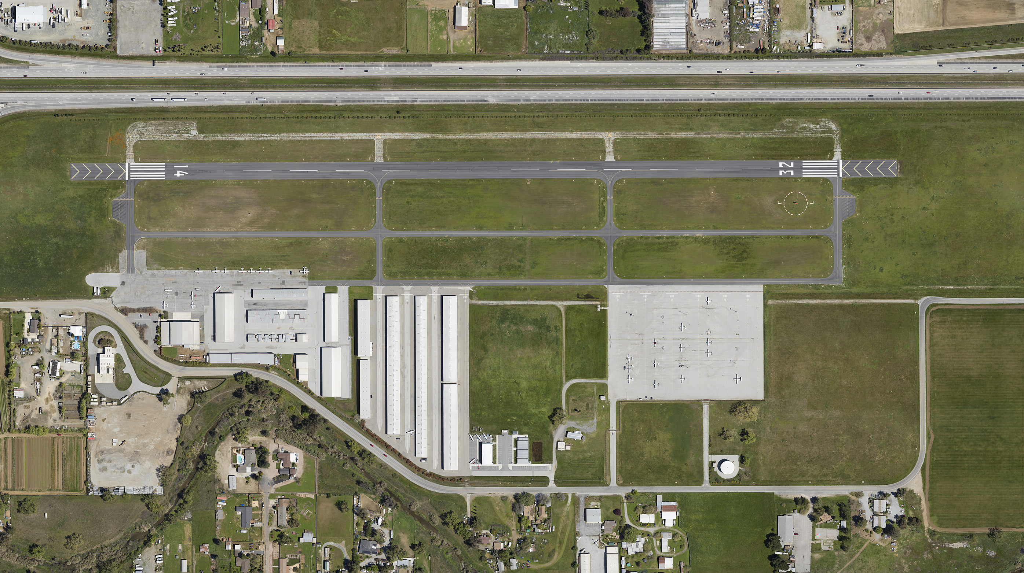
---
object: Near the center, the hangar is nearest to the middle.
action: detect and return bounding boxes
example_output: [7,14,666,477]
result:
[443,296,457,382]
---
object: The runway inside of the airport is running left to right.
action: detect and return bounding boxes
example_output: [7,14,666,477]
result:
[70,159,897,180]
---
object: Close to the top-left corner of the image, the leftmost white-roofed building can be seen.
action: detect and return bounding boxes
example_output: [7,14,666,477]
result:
[15,5,46,22]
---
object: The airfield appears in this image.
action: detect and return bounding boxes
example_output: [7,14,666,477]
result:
[70,118,897,476]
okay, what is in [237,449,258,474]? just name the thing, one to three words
house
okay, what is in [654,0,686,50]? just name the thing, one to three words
greenhouse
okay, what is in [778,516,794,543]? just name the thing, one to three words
building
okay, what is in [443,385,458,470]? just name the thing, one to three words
hangar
